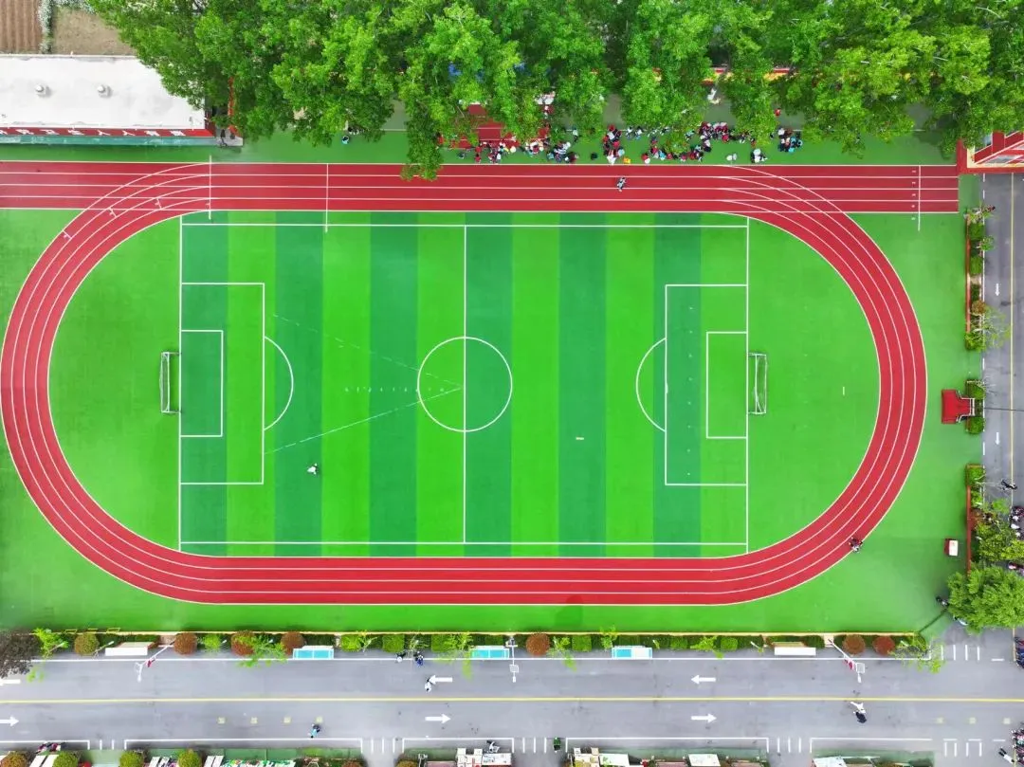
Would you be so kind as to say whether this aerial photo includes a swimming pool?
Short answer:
No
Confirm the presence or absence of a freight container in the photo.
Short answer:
No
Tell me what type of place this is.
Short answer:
sports ground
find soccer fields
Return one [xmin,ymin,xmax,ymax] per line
[179,213,844,557]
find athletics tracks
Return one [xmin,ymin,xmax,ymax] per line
[0,156,957,605]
